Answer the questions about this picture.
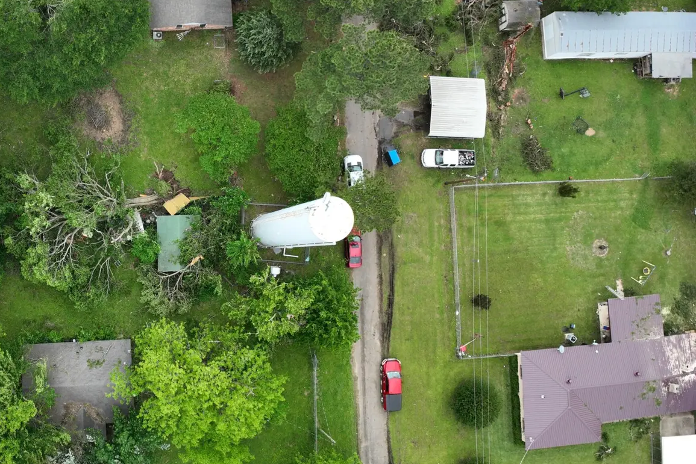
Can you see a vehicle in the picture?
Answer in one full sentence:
Yes, the image includes a vehicle.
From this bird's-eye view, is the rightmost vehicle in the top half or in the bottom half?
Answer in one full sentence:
The top half of the photo is where the rightmost vehicle is.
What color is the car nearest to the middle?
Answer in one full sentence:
From above, the car nearest to the middle appears red.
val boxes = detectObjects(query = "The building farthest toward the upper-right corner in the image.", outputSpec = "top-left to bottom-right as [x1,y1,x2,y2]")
[542,6,696,84]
